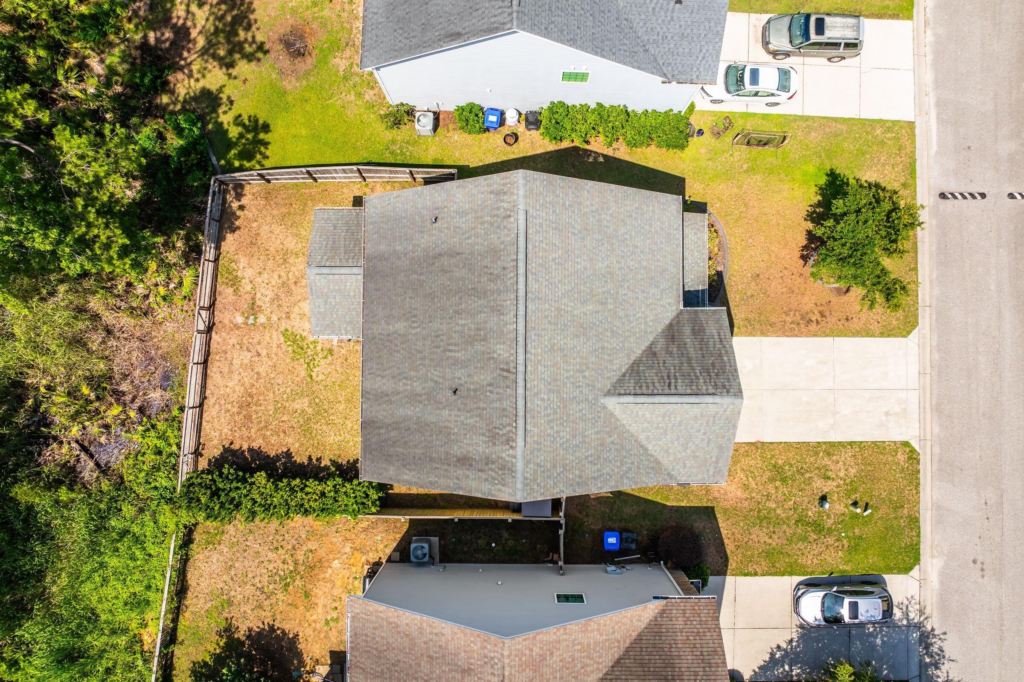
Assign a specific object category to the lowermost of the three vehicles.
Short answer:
car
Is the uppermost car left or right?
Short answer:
right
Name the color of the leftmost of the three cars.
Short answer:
white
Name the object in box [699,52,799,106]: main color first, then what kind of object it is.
white car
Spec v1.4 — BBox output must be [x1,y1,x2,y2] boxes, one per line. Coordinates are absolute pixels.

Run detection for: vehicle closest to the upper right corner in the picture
[758,0,868,62]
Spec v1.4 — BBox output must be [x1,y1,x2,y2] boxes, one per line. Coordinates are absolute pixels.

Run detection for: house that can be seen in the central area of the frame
[308,169,743,503]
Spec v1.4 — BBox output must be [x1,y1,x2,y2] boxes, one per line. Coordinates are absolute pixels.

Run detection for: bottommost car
[793,580,899,637]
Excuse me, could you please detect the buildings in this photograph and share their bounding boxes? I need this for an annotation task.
[358,0,732,117]
[308,169,743,503]
[344,555,730,682]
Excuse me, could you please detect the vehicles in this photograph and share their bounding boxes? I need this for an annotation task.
[793,580,899,637]
[758,0,868,62]
[699,52,799,106]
